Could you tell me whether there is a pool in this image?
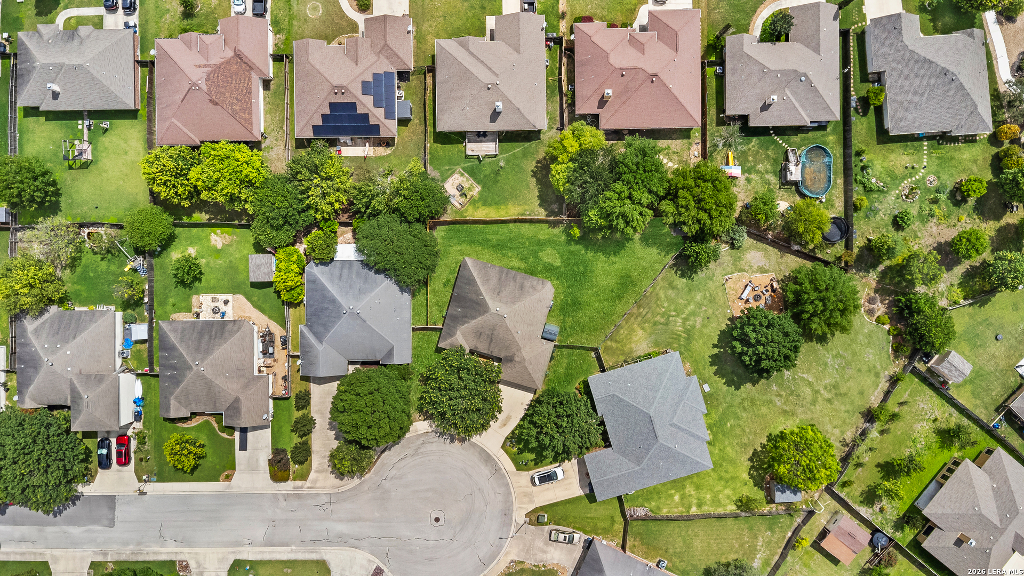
Yes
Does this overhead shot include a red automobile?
Yes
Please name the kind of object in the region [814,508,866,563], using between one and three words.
shed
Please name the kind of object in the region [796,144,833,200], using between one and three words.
swimming pool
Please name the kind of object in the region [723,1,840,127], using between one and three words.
house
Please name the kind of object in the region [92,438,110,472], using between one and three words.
car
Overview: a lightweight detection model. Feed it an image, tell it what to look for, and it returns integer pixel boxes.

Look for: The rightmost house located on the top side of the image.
[863,13,993,137]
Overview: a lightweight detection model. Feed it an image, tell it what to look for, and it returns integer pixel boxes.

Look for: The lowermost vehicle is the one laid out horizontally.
[549,529,582,547]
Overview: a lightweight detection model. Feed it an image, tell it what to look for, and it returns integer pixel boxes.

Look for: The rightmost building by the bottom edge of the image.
[914,446,1024,576]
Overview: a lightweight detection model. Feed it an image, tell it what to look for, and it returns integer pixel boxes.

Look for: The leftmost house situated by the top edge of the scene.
[17,24,142,112]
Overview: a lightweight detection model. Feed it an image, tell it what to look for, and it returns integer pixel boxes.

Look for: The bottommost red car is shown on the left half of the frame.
[111,436,129,468]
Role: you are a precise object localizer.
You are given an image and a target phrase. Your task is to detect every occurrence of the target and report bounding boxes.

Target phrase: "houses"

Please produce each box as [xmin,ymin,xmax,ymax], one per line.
[17,24,142,112]
[571,9,701,130]
[863,13,993,137]
[293,14,413,138]
[438,257,555,389]
[435,12,549,133]
[158,320,274,427]
[723,1,840,127]
[147,15,272,146]
[570,536,676,576]
[584,351,713,502]
[1001,379,1024,431]
[914,446,1024,576]
[9,306,133,431]
[295,260,412,376]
